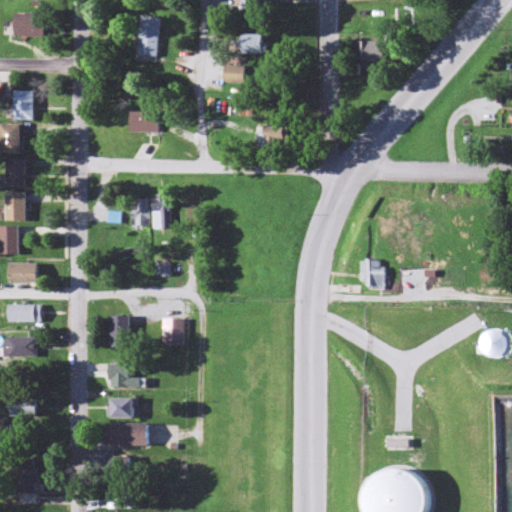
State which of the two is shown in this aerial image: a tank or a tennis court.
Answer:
tank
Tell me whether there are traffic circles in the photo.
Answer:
No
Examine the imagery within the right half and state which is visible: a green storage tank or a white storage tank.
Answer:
white storage tank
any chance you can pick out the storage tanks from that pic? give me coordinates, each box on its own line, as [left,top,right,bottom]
[474,325,512,362]
[356,464,435,512]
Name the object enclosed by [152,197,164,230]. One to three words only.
house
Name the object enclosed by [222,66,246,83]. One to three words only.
building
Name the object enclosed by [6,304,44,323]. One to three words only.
house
